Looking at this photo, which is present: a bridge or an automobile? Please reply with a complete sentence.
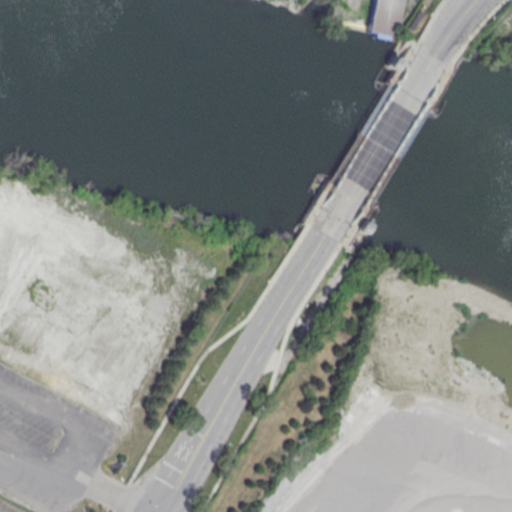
The one in the frame is a bridge.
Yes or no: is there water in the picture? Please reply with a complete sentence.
Yes, there is water in the image.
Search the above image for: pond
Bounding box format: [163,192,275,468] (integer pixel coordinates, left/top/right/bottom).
[453,318,512,409]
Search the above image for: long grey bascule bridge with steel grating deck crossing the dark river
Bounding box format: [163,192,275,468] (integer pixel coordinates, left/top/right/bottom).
[290,40,469,247]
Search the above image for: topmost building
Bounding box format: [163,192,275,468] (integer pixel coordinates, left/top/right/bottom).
[366,0,403,45]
